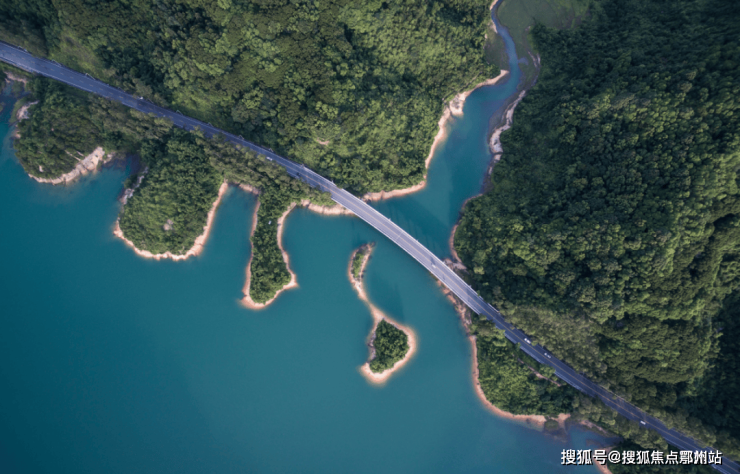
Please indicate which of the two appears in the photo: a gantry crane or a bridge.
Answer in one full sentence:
The one in the frame is a bridge.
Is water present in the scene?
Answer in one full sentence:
Yes, there's water in this view.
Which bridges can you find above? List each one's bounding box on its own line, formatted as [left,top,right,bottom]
[307,169,508,319]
